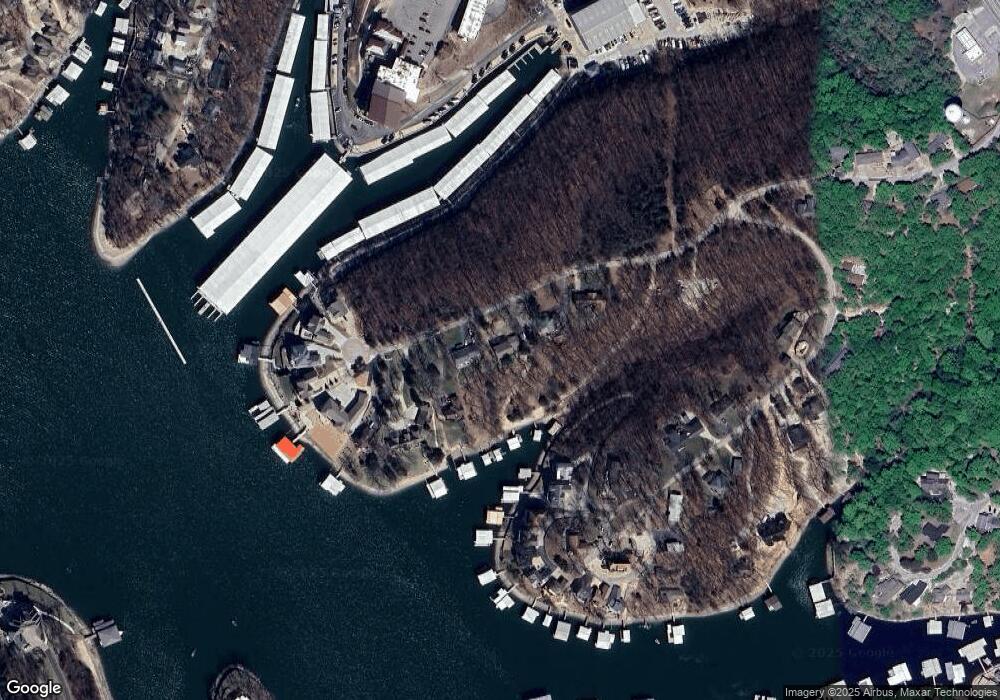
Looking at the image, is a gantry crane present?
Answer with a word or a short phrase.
No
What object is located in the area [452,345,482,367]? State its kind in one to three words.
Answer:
house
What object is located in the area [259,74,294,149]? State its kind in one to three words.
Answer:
pier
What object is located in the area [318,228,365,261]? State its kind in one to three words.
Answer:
pier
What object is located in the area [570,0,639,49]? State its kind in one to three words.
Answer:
building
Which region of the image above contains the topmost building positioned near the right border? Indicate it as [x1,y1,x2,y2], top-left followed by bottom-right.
[958,26,984,59]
